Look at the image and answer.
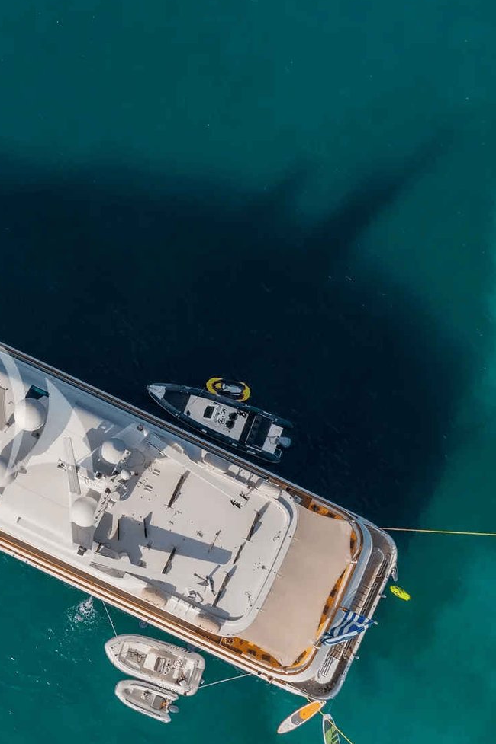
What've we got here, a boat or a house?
boat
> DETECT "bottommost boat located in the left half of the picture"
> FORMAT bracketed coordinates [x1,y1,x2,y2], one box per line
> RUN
[113,682,180,721]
